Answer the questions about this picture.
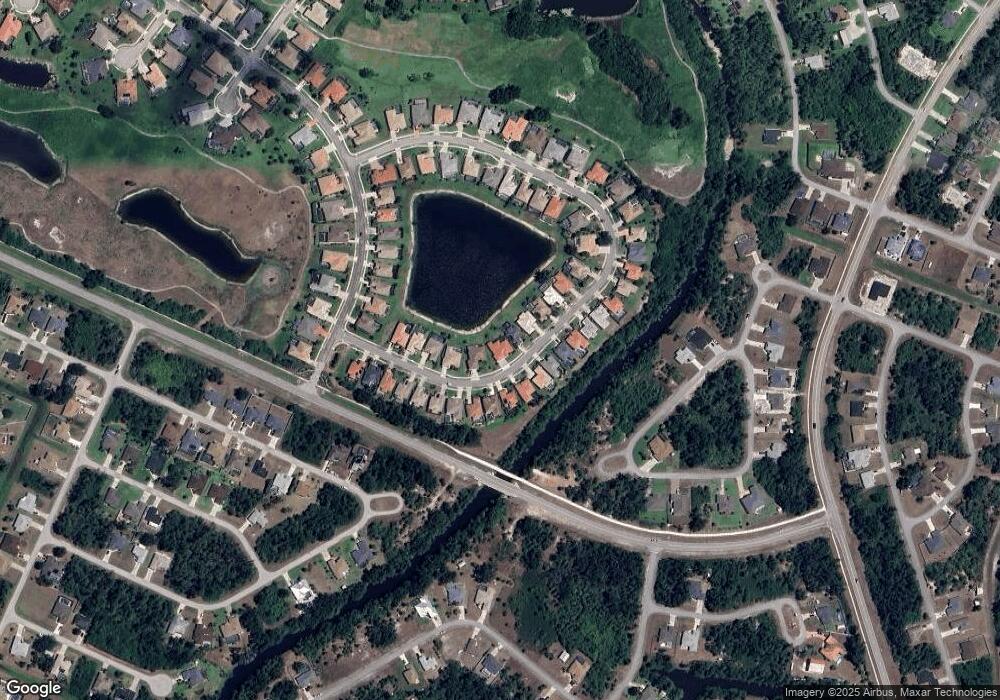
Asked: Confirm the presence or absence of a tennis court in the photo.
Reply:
No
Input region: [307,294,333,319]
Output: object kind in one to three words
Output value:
house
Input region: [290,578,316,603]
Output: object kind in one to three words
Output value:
house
